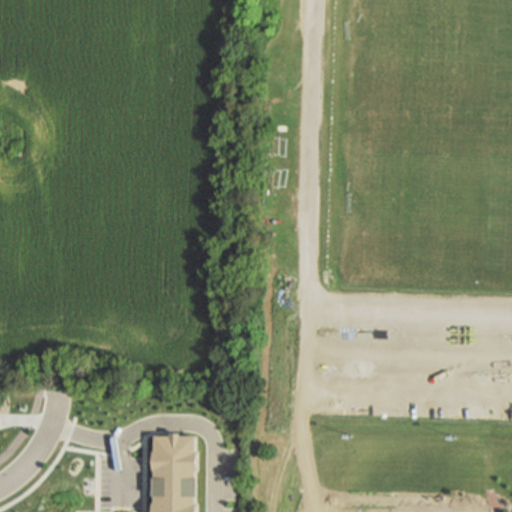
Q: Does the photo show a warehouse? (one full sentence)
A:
No, the frame has no warehouse in it.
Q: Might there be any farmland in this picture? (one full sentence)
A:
Yes, there's farmland in this view.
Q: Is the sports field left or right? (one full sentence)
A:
It is on the right.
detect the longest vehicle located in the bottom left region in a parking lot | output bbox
[110,428,122,472]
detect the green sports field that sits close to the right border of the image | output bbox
[336,0,512,291]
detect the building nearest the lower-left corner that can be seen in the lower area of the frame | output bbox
[149,435,198,512]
